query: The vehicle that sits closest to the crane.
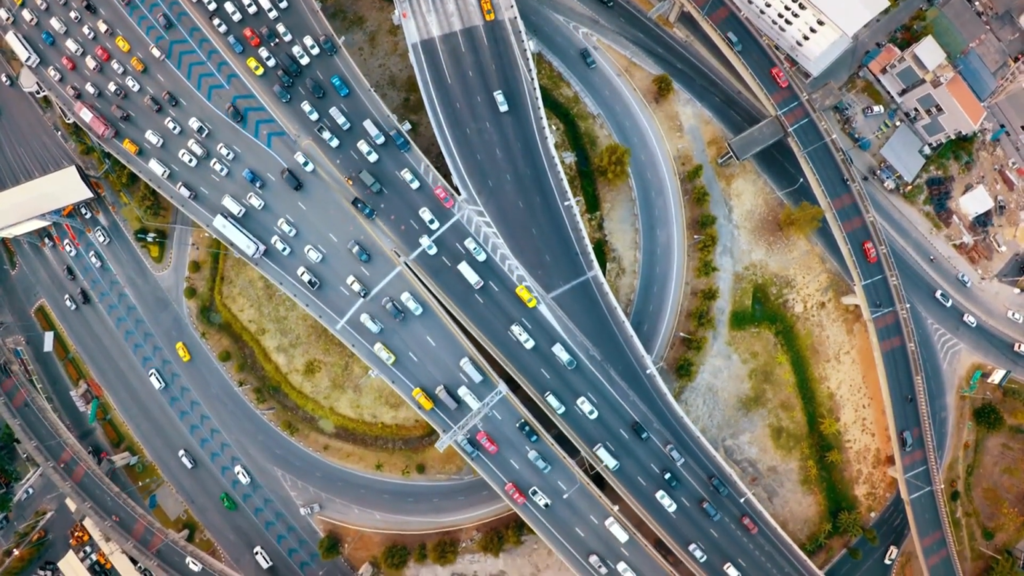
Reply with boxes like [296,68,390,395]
[985,234,1001,253]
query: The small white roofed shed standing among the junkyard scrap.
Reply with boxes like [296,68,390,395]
[947,184,994,222]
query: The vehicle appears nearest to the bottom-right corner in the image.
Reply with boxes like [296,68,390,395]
[883,542,898,565]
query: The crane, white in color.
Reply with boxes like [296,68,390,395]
[949,216,984,257]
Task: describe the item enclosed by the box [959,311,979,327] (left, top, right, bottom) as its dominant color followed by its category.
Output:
white car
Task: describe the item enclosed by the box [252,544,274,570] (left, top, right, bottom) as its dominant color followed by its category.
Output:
white car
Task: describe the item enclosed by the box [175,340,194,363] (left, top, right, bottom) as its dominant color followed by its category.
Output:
yellow car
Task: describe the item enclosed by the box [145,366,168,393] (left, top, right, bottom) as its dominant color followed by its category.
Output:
white vehicle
